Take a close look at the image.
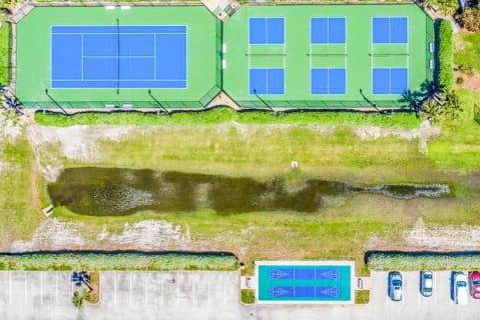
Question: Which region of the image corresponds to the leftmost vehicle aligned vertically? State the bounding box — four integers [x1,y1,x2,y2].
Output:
[390,271,404,301]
